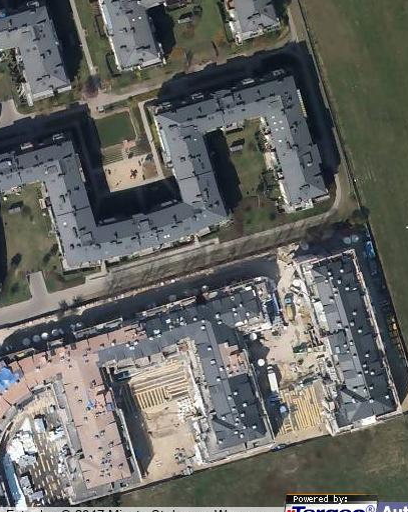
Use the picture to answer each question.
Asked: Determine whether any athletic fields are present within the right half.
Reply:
No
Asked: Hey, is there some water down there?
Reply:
No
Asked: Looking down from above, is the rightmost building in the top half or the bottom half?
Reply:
bottom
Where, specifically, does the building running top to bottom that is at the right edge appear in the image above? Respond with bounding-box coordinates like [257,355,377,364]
[296,252,402,437]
